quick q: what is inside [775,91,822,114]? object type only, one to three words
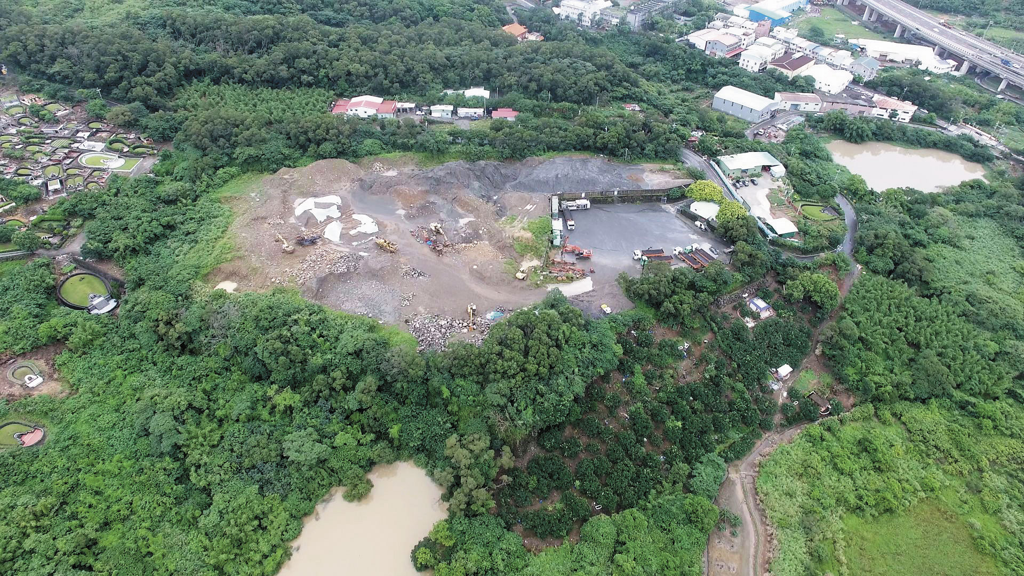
building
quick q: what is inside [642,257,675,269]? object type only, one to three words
vehicle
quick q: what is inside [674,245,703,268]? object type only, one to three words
truck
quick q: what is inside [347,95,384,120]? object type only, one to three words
house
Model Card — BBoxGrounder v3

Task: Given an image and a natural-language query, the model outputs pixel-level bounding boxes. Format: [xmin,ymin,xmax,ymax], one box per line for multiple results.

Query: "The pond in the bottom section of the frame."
[274,459,449,576]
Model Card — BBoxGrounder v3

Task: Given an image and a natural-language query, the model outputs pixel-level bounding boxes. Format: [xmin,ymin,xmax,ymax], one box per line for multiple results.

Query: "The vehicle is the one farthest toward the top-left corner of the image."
[279,234,294,254]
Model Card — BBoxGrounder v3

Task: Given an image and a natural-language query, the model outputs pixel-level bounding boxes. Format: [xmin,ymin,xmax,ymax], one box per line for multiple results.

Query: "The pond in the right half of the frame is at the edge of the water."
[827,138,986,195]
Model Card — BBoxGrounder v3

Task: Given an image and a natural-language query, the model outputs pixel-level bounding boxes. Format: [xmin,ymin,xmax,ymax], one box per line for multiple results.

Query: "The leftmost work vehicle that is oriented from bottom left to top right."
[517,262,538,280]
